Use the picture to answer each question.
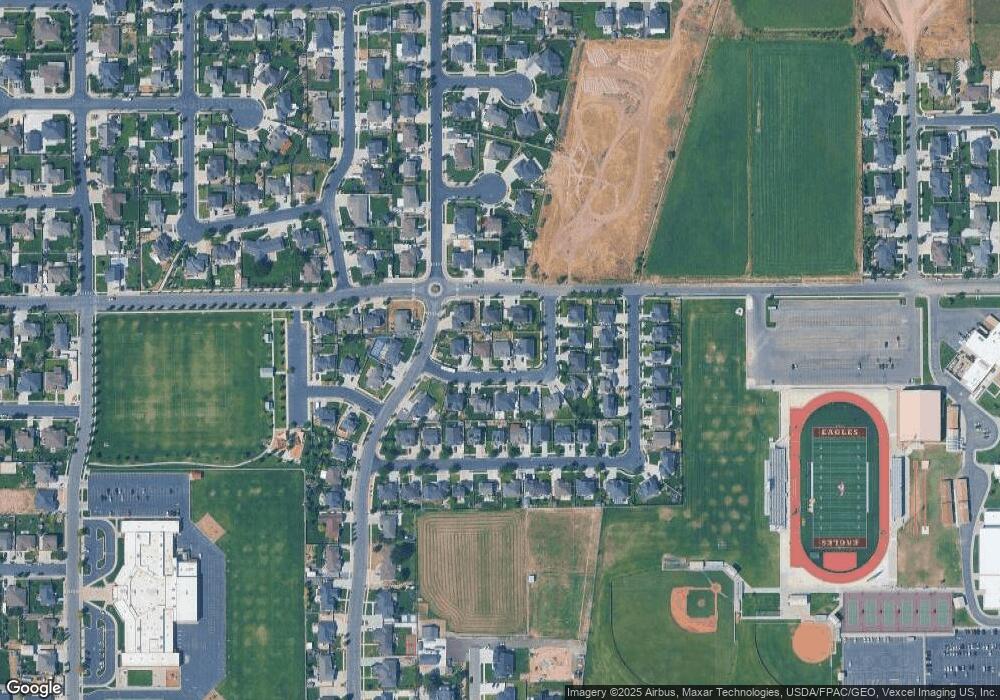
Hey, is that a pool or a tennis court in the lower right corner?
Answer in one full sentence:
You can see a tennis court in the lower right corner.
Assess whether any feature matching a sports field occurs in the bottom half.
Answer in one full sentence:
Yes, in the bottom half there is a sports field.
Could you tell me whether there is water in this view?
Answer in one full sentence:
No, the picture contains no water.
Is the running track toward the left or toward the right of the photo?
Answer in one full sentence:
The running track sits on the right side.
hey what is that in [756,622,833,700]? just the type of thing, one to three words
baseball field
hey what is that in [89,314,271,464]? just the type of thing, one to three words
sports field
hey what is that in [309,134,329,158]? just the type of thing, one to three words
house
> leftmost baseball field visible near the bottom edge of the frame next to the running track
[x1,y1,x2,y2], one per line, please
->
[611,571,734,700]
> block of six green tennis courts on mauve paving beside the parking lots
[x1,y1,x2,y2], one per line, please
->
[844,593,952,632]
